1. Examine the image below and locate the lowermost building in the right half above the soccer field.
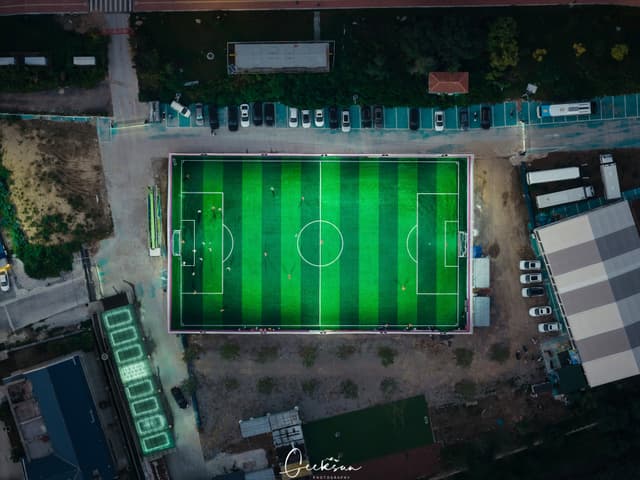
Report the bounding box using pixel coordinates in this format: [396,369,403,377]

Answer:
[429,72,468,95]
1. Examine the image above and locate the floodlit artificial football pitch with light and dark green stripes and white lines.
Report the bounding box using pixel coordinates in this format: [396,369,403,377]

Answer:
[171,155,470,332]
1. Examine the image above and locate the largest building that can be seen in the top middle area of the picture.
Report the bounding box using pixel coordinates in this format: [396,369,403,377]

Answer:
[228,42,335,77]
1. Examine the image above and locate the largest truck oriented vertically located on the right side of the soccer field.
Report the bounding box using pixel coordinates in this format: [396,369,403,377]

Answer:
[594,156,620,201]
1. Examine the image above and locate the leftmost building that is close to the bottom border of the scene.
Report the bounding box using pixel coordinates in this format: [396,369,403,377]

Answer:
[4,356,121,480]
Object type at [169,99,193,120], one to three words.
truck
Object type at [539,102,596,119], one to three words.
vehicle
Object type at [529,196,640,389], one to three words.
warehouse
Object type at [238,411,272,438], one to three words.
shed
